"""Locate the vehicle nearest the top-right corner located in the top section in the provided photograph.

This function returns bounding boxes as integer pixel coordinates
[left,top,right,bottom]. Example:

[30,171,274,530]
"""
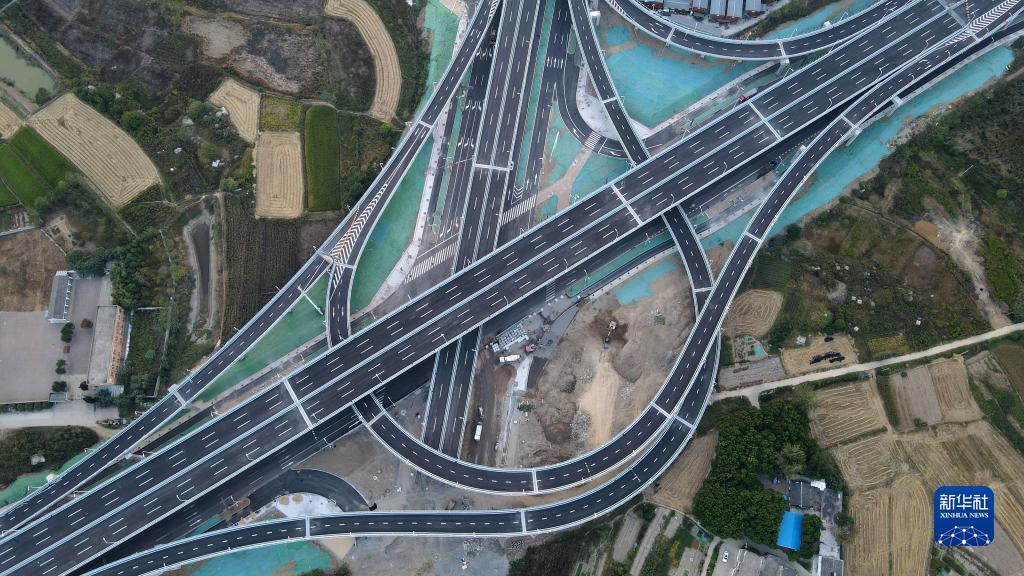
[742,85,760,99]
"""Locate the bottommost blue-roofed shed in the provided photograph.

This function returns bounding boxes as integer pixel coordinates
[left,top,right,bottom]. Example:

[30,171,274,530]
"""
[774,512,803,551]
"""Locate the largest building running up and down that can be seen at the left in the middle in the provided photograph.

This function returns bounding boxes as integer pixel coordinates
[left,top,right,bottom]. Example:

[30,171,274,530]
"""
[88,305,125,386]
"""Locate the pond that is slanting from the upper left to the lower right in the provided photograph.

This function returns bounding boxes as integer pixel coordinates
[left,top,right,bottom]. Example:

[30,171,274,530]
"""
[0,36,58,100]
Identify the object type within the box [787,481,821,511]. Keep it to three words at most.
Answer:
house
